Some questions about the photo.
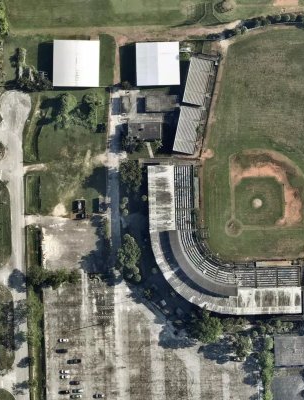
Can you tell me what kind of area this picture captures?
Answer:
sports ground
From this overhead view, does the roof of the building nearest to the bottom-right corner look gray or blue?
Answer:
gray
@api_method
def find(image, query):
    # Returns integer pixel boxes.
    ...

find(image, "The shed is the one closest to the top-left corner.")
[53,40,100,87]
